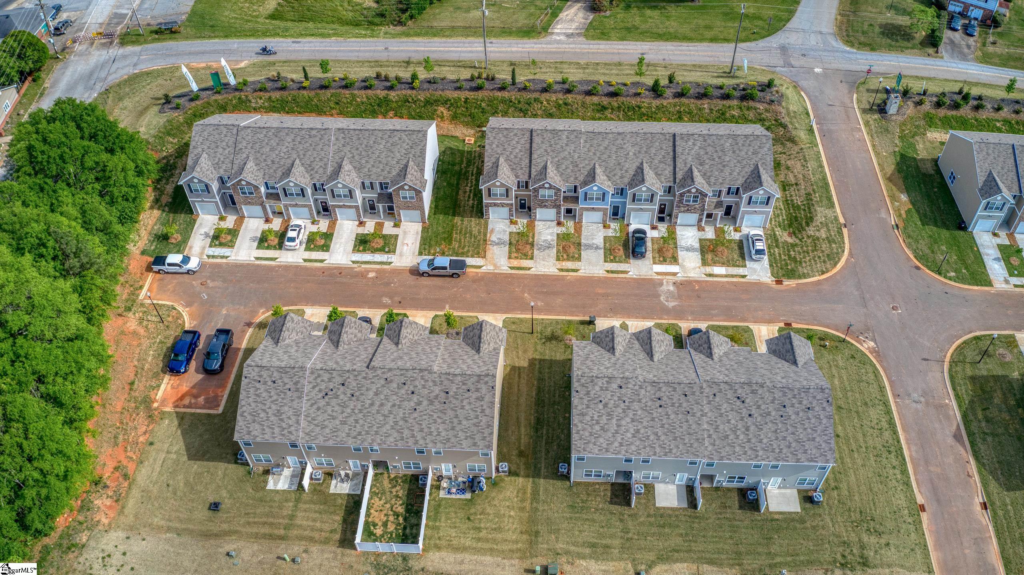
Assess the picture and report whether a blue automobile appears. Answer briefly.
Yes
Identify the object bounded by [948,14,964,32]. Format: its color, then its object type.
blue car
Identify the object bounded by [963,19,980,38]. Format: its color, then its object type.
blue car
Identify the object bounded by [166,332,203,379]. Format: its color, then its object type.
blue truck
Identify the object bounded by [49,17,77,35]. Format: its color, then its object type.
gray car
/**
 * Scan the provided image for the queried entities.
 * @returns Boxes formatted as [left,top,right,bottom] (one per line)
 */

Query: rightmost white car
[747,230,768,260]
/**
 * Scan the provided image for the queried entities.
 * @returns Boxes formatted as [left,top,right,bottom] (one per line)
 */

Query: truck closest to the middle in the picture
[417,258,467,280]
